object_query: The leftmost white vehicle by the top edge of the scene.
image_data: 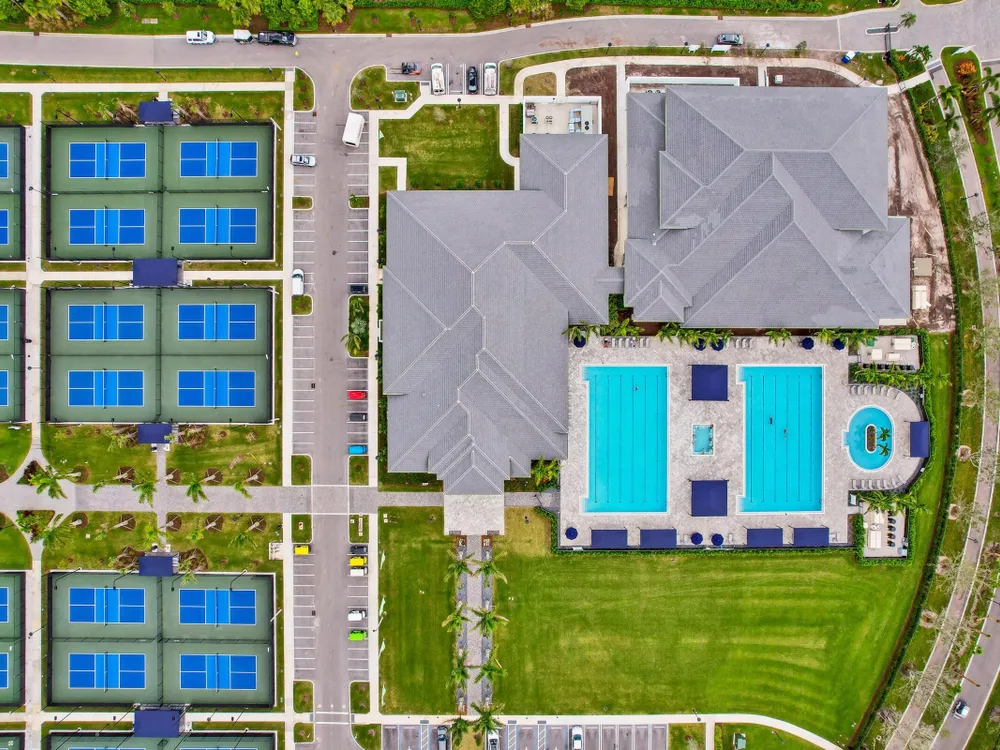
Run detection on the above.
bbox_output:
[186,28,215,44]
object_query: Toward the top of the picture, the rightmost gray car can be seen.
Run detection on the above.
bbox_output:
[717,32,744,47]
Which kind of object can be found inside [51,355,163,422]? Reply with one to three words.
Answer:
sports court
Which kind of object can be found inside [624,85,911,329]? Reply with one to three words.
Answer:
building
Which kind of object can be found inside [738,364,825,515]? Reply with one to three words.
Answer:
swimming pool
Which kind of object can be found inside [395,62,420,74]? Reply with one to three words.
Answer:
vehicle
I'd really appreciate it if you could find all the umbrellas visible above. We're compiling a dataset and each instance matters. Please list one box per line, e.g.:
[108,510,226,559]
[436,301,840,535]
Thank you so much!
[693,339,705,351]
[565,527,577,539]
[830,339,843,350]
[690,532,702,544]
[573,335,585,347]
[711,533,723,545]
[800,338,812,350]
[710,340,722,351]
